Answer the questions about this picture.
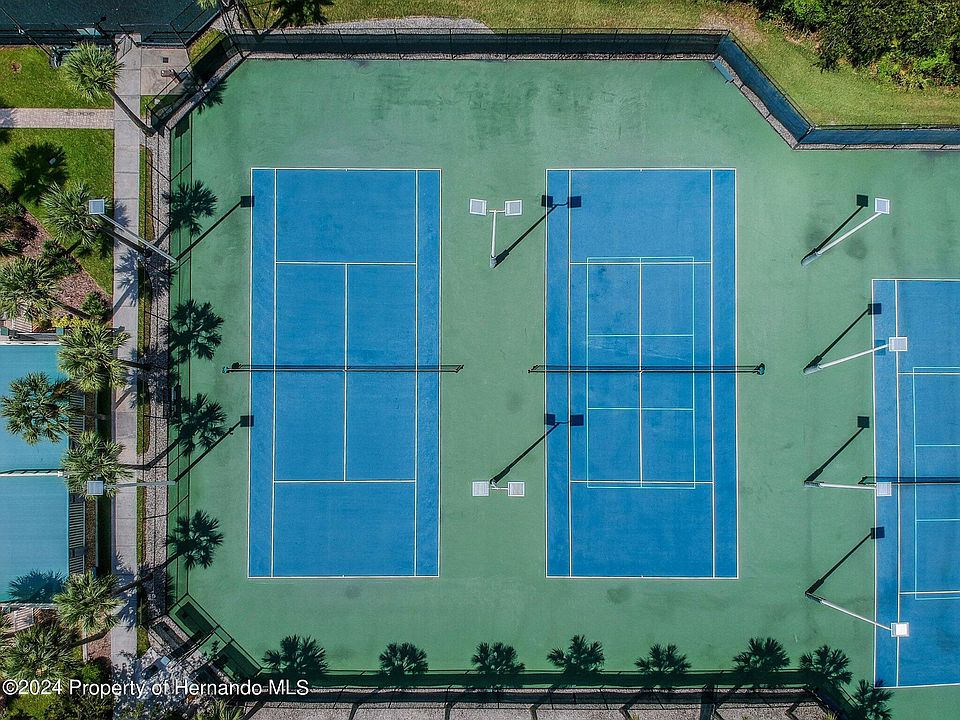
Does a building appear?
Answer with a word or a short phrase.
No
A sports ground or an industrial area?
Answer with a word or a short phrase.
sports ground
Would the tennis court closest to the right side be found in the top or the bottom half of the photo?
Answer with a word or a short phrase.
bottom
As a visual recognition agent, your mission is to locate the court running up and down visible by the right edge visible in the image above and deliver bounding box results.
[873,278,960,688]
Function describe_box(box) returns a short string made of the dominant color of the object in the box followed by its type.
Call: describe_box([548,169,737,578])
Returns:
blue tennis court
